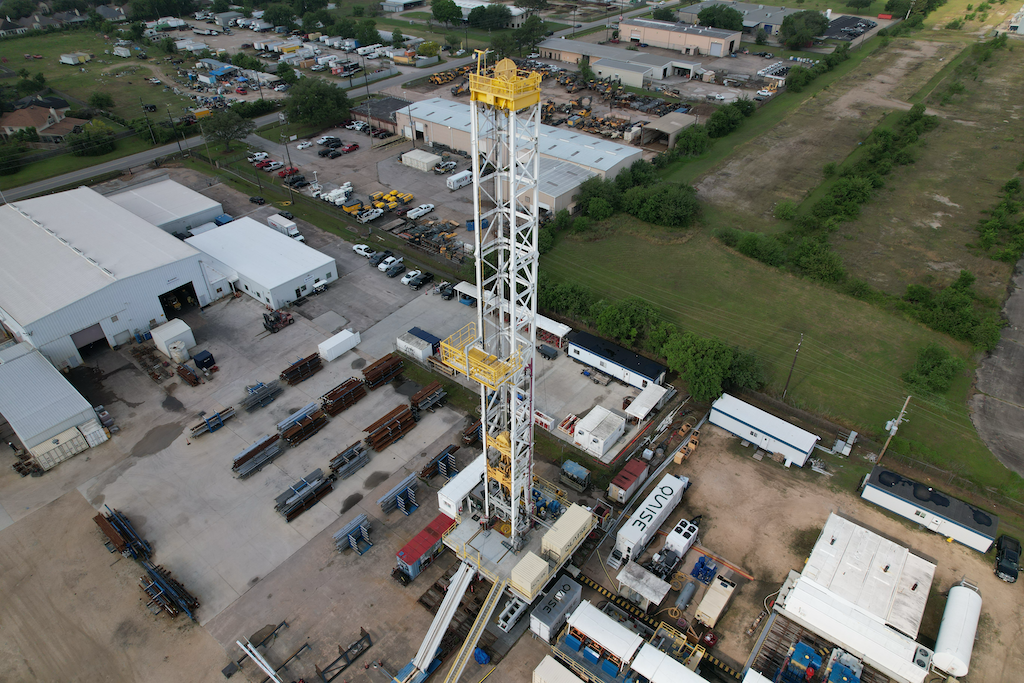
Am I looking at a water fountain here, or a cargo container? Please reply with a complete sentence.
Visible in the photo is a cargo container.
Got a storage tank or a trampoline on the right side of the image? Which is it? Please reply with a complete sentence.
Visible on the right side of the image is a storage tank.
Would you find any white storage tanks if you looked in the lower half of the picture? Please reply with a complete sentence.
Yes, I can see a white storage tank in the lower half of the picture.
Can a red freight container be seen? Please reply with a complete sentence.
Yes, I can see a red freight container in this picture.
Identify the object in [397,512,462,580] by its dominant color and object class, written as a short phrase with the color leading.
red shipping container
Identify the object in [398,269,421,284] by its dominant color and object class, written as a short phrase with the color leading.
white car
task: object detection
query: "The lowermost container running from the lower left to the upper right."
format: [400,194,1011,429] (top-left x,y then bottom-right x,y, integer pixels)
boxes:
[531,575,583,640]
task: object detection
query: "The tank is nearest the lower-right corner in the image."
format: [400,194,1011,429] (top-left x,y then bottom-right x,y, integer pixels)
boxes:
[929,577,984,675]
